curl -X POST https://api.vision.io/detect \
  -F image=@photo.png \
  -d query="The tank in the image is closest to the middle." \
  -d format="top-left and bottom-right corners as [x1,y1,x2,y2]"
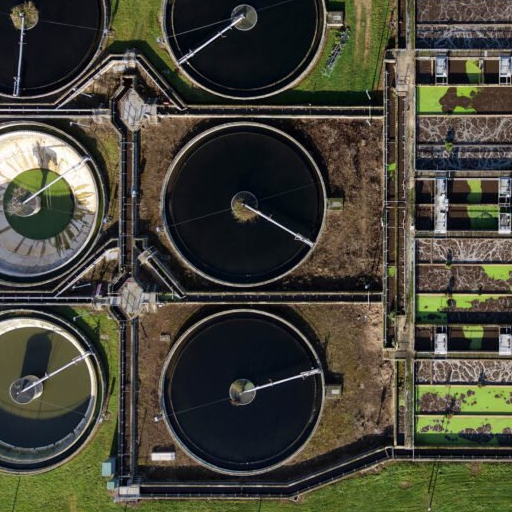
[163,122,327,286]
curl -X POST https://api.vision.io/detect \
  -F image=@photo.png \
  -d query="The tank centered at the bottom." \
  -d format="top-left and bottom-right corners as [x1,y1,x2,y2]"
[160,309,325,474]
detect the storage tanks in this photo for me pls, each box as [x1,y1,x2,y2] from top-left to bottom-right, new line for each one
[160,309,325,474]
[0,0,109,98]
[163,0,327,98]
[163,122,327,286]
[0,309,107,475]
[0,121,109,285]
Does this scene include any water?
Yes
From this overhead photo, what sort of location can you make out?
industrial area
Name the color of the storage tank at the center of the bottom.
black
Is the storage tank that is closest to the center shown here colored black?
Yes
